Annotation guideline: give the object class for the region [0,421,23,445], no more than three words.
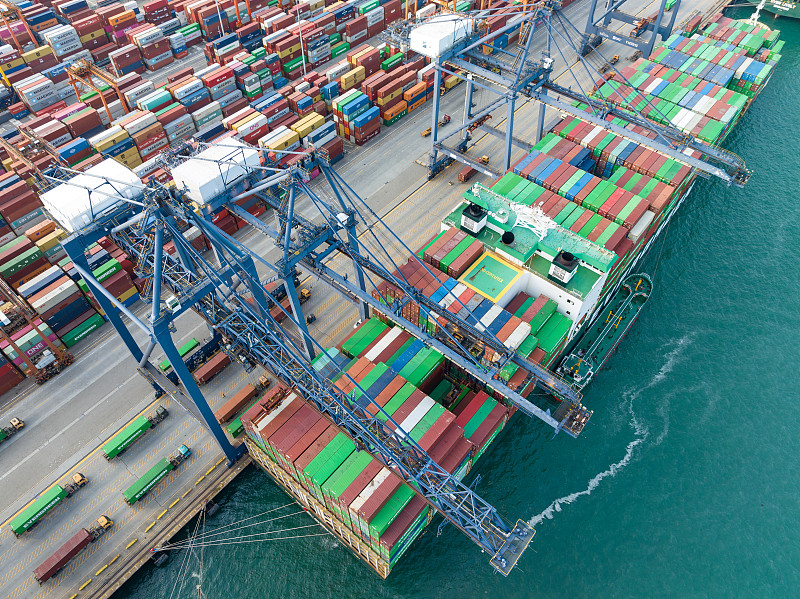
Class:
truck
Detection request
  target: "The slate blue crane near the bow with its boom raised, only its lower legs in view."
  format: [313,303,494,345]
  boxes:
[566,0,684,69]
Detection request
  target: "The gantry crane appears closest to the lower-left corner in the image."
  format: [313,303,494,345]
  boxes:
[0,284,70,385]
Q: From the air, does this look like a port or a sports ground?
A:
port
